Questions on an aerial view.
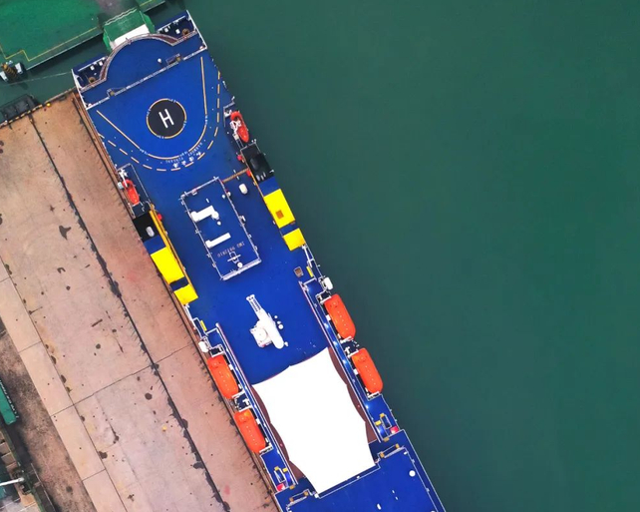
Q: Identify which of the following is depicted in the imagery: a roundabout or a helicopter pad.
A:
helicopter pad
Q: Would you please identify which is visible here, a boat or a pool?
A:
boat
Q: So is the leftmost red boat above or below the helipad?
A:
below it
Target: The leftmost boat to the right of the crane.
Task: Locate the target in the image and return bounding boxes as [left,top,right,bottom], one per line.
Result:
[323,292,357,339]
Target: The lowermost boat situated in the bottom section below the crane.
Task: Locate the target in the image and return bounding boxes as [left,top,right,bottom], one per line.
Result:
[232,406,267,454]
